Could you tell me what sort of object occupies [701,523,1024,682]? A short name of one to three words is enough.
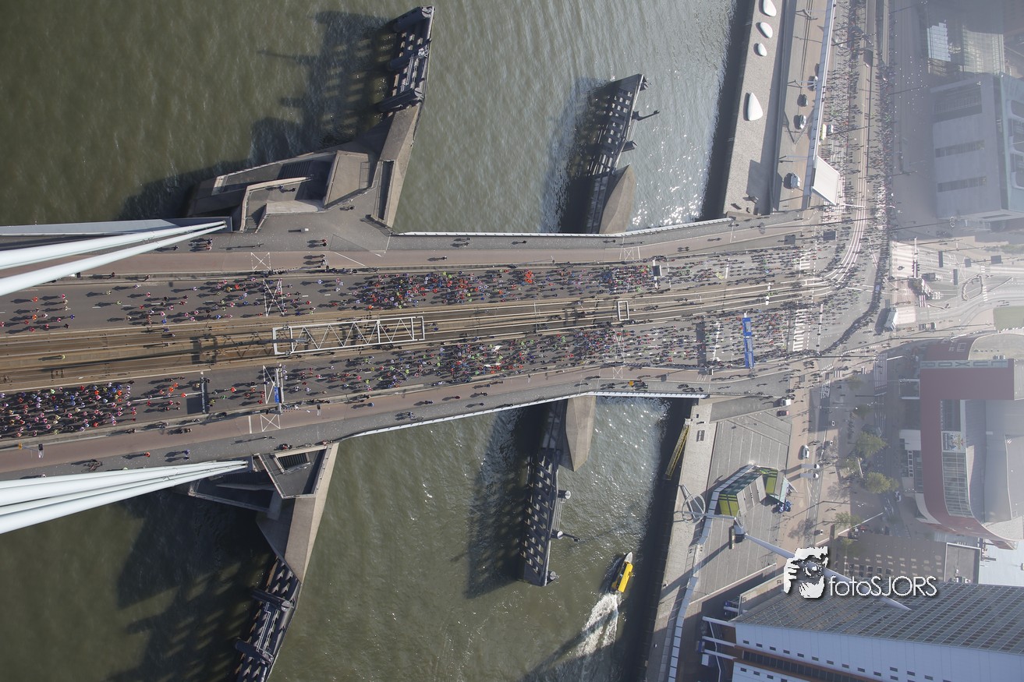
building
